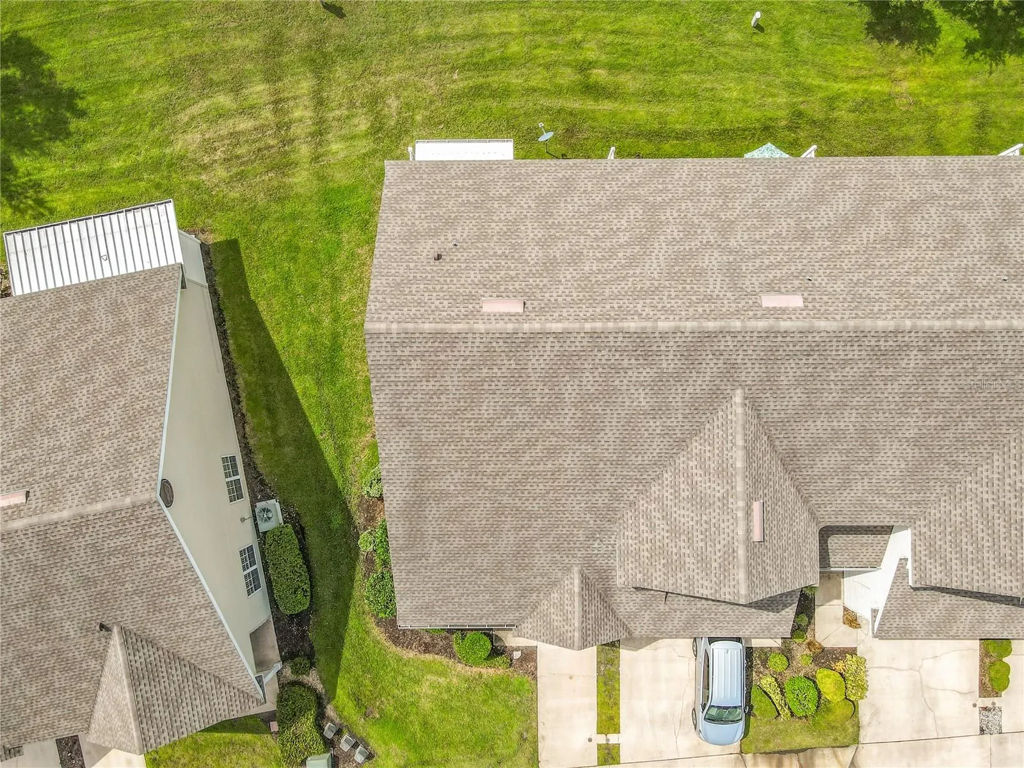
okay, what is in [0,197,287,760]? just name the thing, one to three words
house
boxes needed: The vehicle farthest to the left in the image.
[692,637,752,748]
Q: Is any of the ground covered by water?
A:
No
